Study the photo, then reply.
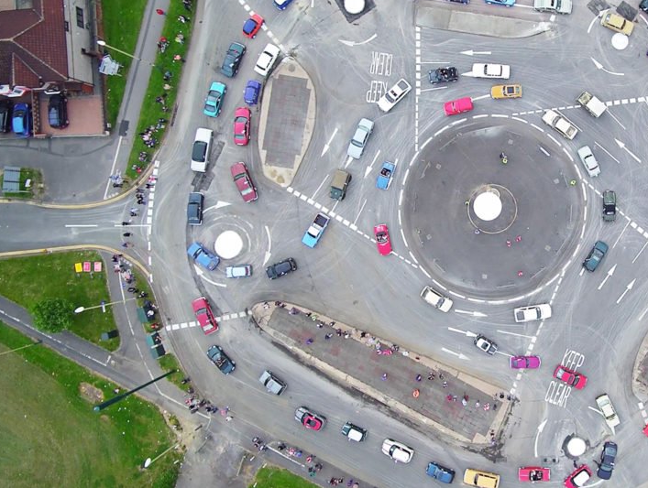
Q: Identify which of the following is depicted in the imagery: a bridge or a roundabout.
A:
roundabout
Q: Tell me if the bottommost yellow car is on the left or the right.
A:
right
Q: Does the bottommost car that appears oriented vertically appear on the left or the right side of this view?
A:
right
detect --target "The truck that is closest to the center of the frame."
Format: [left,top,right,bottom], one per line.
[303,210,332,249]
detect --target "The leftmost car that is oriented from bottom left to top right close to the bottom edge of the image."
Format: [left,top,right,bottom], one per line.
[562,461,594,488]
